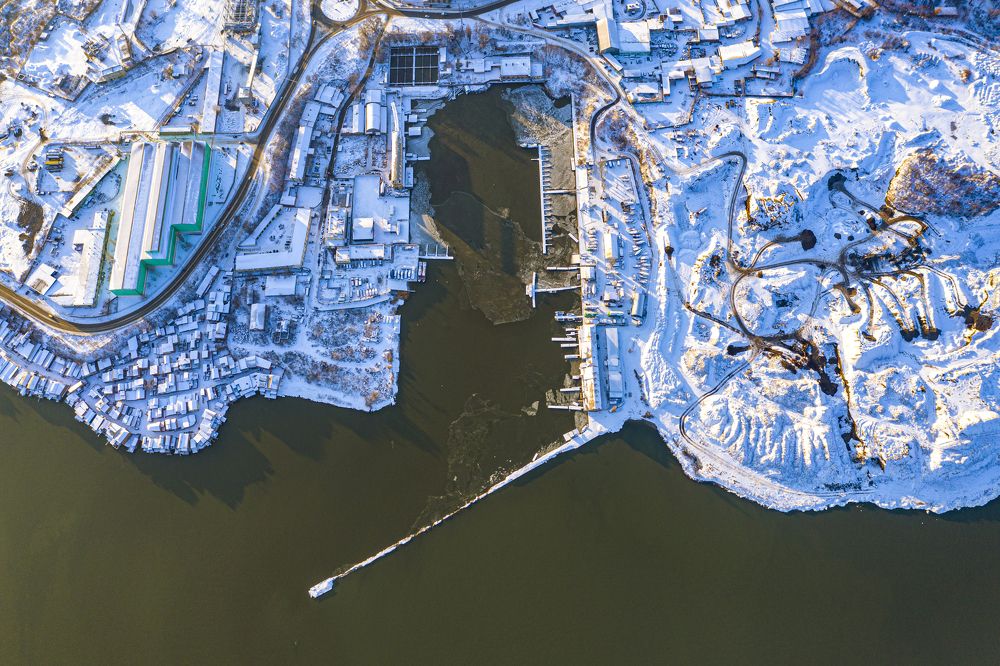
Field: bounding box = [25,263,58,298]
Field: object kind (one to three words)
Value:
house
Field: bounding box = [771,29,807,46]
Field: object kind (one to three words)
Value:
shed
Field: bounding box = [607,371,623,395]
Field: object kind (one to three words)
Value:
building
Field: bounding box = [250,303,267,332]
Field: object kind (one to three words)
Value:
barn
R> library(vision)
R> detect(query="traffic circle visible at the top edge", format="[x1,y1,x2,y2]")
[311,0,368,27]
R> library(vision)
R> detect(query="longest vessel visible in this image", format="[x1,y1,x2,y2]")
[390,102,402,190]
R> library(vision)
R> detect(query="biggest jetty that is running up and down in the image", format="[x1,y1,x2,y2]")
[540,146,556,254]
